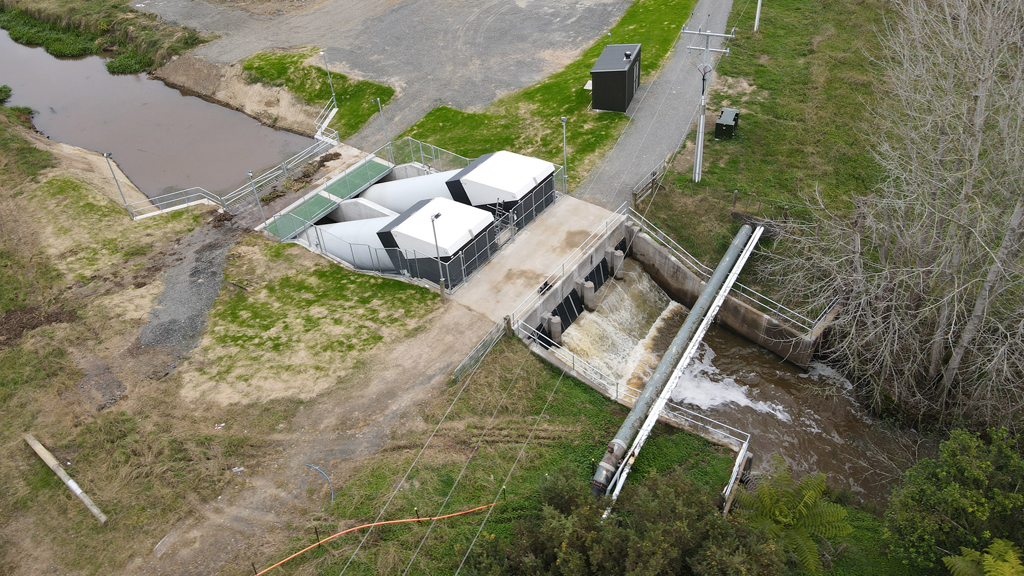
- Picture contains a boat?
No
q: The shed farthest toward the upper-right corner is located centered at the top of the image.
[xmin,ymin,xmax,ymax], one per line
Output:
[590,47,643,111]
